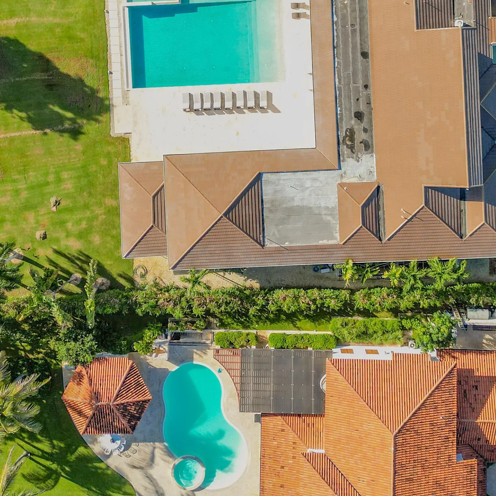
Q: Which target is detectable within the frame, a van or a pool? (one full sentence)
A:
Looking from above, you can make out a pool.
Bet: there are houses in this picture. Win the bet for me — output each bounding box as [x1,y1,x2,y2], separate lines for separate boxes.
[118,0,496,271]
[260,340,496,496]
